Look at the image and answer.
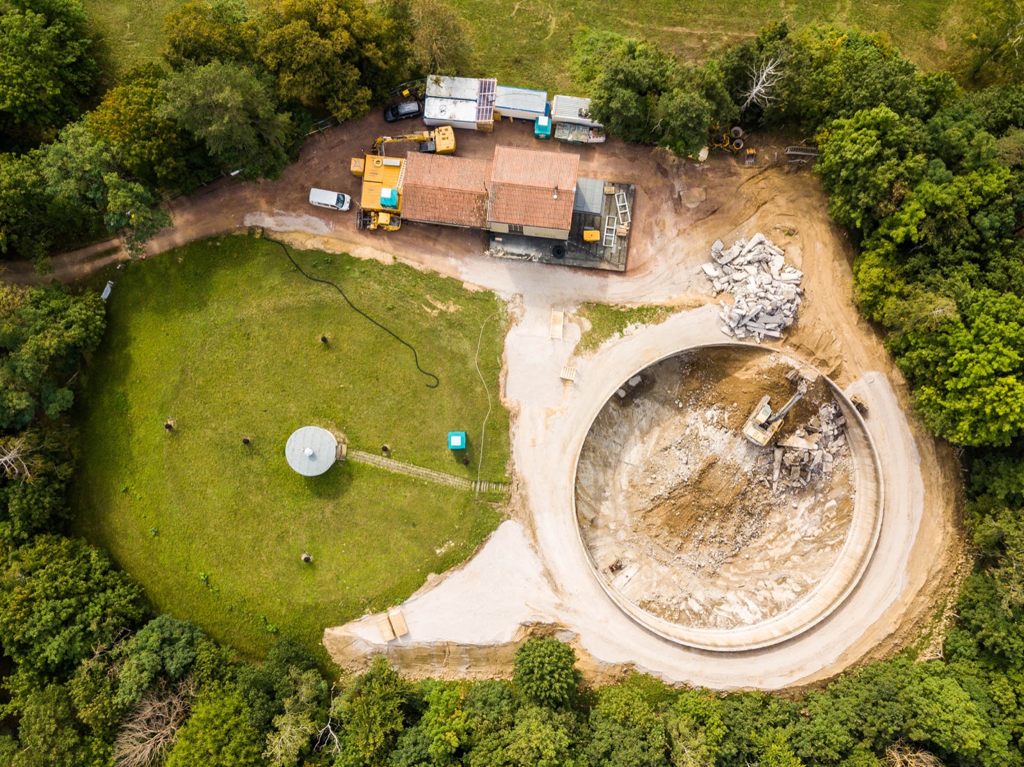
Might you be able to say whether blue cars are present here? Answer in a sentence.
No, I can't see a single blue car in this photo.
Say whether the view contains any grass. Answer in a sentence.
Yes, there is grass in the image.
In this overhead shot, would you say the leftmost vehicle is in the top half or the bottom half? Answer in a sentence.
The top half of the photo is where the leftmost vehicle is.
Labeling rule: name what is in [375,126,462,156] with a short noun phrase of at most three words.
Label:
work vehicle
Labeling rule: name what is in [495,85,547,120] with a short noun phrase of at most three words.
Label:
building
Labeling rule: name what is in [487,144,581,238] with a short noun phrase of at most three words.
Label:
house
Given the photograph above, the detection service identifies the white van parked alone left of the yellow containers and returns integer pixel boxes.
[307,185,350,209]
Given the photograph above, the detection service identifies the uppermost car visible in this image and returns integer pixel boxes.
[382,96,422,122]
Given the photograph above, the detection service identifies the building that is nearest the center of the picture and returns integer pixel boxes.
[448,431,467,449]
